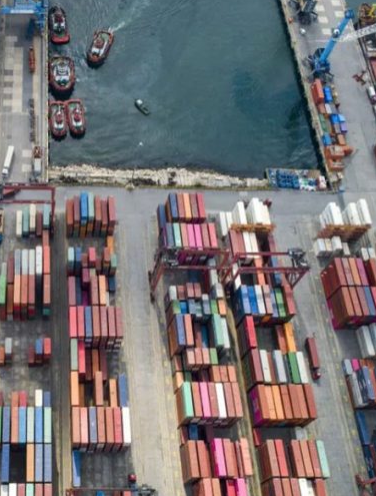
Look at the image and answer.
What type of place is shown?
port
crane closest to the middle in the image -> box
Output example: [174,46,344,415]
[145,247,233,302]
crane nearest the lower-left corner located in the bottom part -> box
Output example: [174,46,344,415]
[63,481,157,496]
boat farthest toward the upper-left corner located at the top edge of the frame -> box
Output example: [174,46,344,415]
[49,8,70,47]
